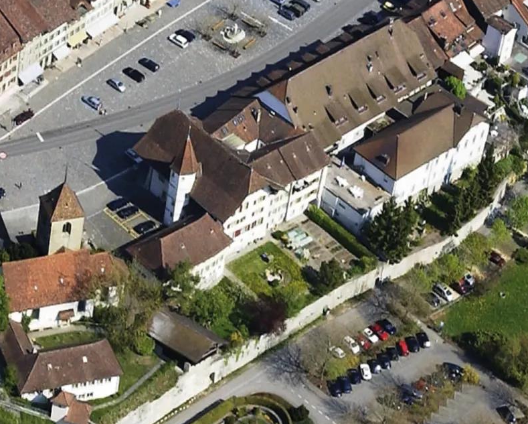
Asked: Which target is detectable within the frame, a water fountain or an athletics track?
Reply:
water fountain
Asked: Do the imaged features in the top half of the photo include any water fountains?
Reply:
Yes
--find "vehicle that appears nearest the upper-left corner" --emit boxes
[12,110,34,124]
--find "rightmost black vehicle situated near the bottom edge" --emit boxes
[496,406,518,424]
